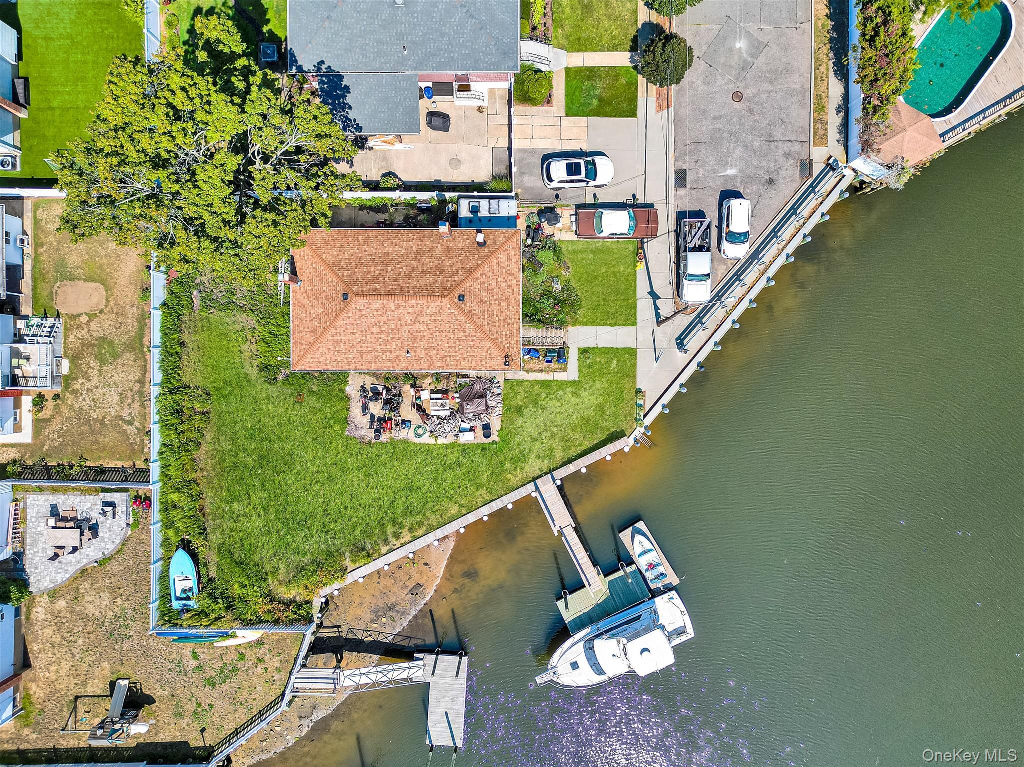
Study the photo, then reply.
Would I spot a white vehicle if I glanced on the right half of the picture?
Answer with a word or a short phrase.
Yes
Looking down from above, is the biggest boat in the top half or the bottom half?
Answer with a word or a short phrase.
bottom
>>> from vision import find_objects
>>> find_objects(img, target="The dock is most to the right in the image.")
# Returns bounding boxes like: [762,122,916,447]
[622,518,676,594]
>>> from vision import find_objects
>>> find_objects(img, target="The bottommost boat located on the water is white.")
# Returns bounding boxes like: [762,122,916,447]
[534,589,691,690]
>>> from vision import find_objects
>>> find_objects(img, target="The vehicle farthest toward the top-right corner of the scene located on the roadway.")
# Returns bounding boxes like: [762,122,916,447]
[719,196,753,261]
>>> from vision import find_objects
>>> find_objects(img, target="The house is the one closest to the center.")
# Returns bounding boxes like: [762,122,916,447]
[280,223,522,371]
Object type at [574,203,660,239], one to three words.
car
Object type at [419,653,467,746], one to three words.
pier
